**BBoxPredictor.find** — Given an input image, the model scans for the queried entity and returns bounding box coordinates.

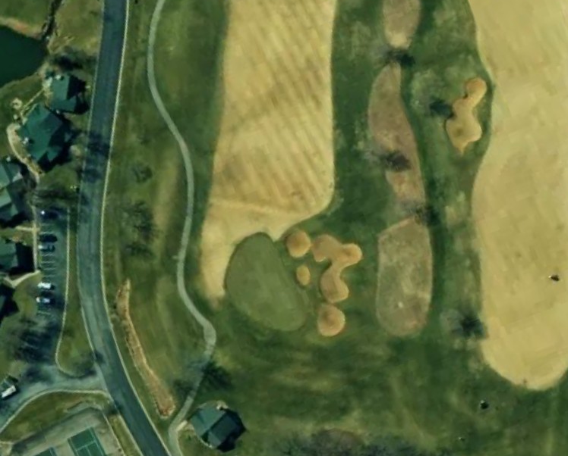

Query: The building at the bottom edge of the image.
[185,404,237,456]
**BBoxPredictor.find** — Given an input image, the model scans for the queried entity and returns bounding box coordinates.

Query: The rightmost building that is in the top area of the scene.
[45,75,87,114]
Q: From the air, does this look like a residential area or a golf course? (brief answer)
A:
golf course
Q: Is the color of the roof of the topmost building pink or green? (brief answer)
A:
green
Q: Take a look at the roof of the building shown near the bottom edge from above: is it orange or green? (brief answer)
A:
green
